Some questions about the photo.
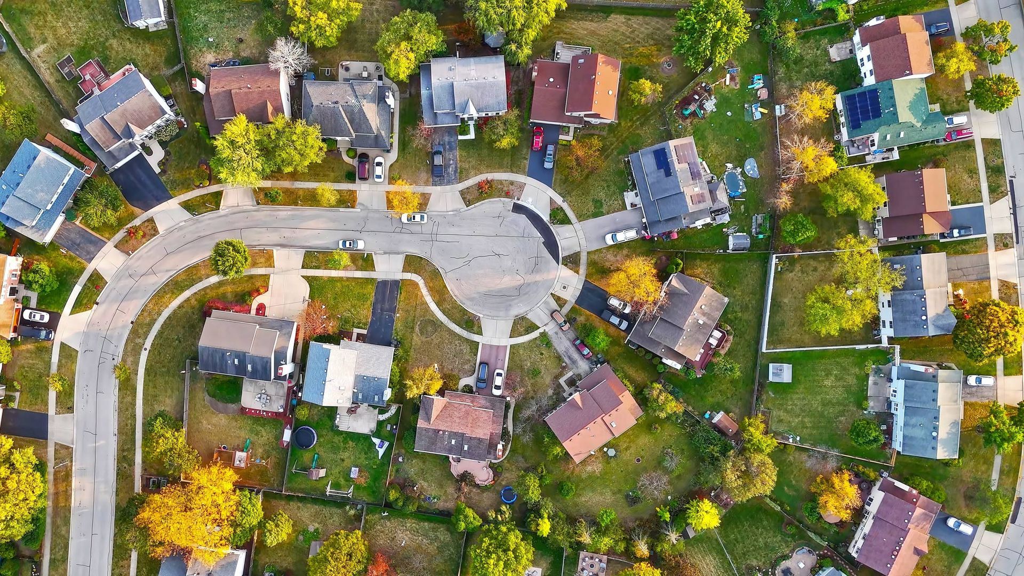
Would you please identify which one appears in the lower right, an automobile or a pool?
automobile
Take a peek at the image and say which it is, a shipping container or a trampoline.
trampoline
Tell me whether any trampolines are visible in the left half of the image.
Yes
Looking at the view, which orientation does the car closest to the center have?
diagonally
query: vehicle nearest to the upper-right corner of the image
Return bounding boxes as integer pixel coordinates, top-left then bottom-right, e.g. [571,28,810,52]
[926,22,951,35]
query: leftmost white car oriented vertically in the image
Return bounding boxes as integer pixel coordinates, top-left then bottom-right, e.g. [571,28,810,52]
[373,156,385,182]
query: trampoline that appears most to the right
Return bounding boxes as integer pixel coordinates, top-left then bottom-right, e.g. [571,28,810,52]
[501,487,517,503]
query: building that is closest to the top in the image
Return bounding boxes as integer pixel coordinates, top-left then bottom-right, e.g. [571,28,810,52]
[124,0,168,29]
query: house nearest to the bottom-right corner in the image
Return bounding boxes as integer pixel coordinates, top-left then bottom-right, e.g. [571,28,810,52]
[846,478,941,576]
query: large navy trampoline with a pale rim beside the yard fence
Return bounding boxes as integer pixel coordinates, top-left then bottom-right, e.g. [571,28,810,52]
[291,425,318,451]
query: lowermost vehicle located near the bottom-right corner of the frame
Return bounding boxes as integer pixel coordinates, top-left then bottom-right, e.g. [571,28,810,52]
[944,515,975,537]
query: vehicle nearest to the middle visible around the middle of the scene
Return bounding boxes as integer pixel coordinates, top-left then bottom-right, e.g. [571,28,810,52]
[549,307,571,332]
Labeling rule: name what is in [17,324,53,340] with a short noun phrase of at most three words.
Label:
vehicle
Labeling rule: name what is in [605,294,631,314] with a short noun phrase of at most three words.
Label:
car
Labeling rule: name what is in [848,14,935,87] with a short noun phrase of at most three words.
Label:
house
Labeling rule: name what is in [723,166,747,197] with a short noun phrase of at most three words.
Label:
swimming pool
